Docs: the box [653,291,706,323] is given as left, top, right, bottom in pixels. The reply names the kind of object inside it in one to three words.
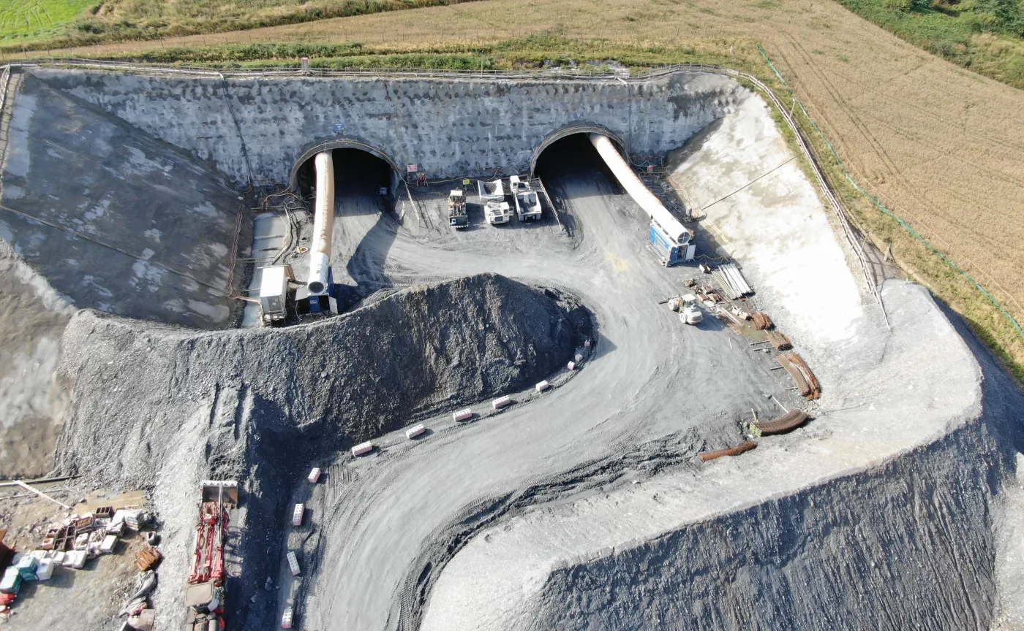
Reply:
work vehicle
